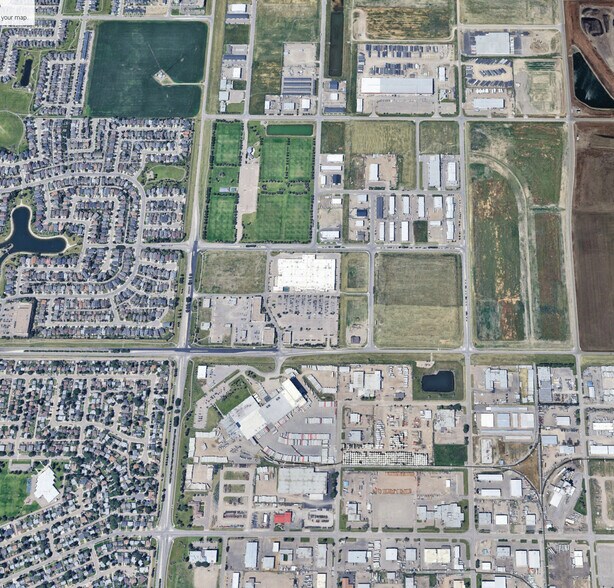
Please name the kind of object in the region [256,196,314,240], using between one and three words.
sports field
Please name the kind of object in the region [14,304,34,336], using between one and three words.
building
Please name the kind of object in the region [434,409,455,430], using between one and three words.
building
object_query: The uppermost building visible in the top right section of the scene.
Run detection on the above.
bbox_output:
[474,32,510,56]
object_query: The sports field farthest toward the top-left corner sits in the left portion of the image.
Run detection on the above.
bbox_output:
[212,122,240,164]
